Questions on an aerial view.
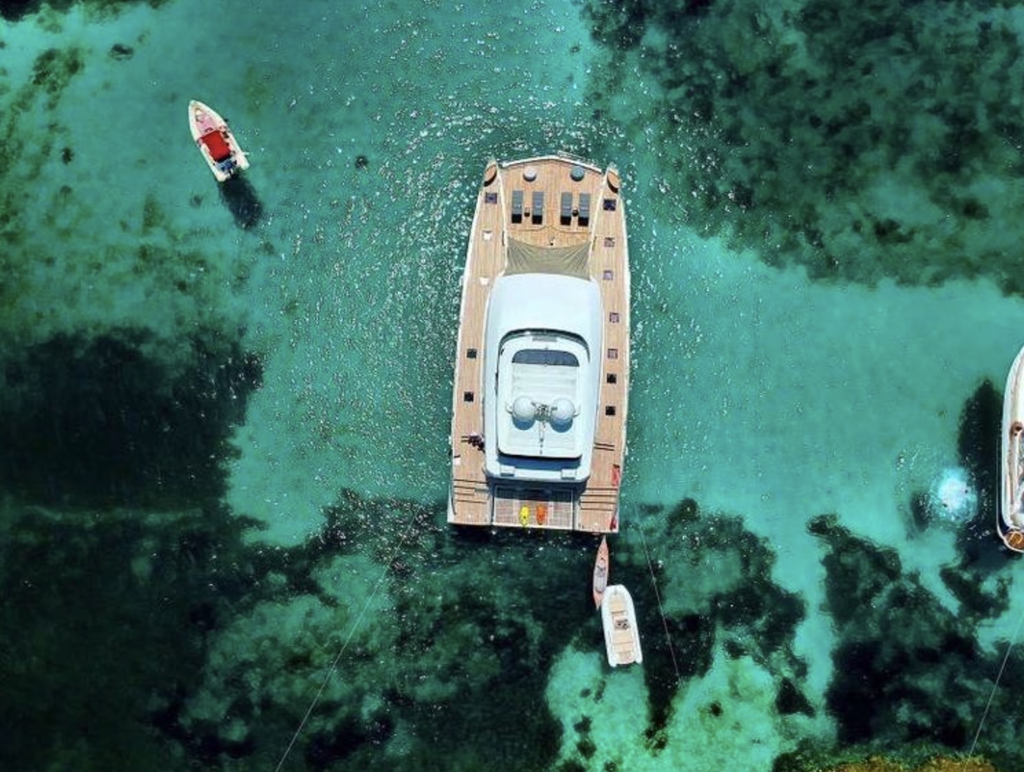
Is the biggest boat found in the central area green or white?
white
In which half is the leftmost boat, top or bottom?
top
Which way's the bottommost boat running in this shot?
vertically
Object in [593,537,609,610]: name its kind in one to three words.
boat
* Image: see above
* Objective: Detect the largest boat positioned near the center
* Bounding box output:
[448,150,630,529]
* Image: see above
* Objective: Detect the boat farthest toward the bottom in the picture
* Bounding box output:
[604,587,643,671]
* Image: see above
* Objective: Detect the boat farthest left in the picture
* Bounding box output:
[188,98,251,186]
